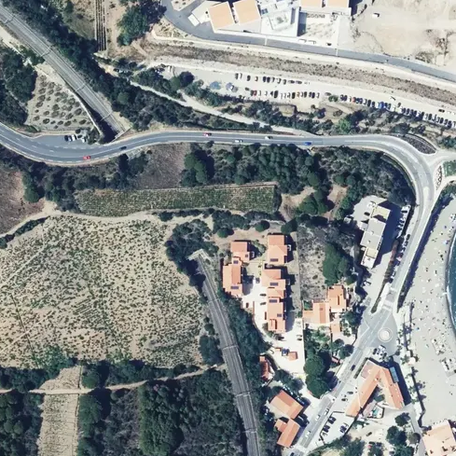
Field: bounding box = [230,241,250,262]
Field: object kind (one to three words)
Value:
house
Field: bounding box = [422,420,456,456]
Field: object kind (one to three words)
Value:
house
